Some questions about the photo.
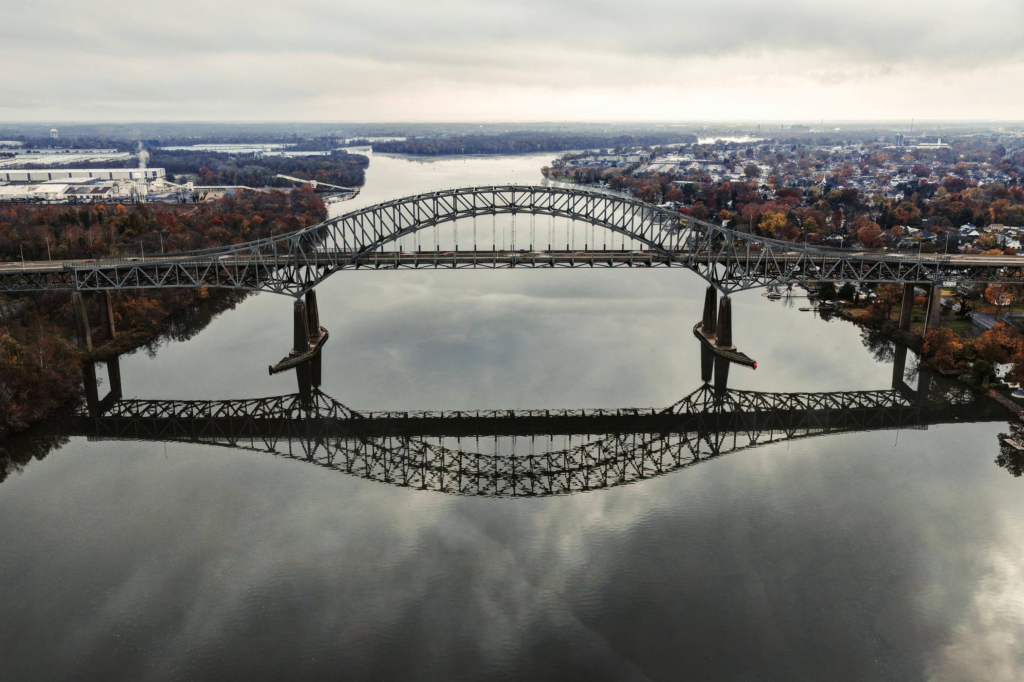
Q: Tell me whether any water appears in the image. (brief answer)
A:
Yes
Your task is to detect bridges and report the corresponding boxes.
[72,183,942,297]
